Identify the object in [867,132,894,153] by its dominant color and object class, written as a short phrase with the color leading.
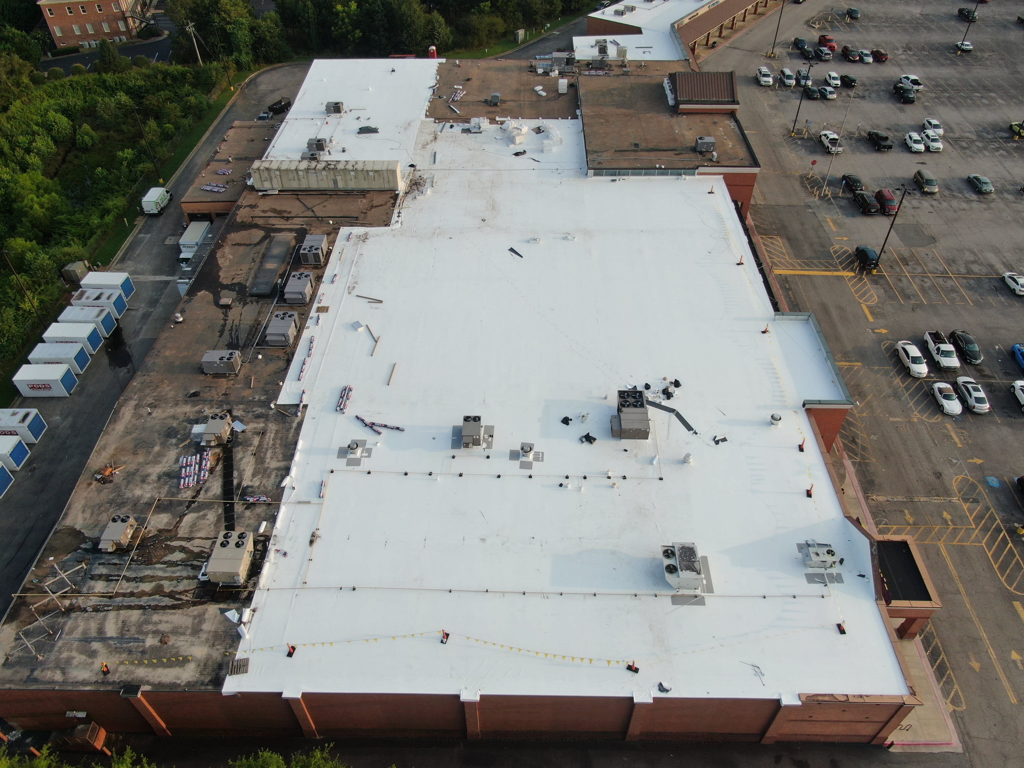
black truck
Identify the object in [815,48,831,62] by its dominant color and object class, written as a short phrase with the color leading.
gray car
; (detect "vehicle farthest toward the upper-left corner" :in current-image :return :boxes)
[142,183,174,213]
